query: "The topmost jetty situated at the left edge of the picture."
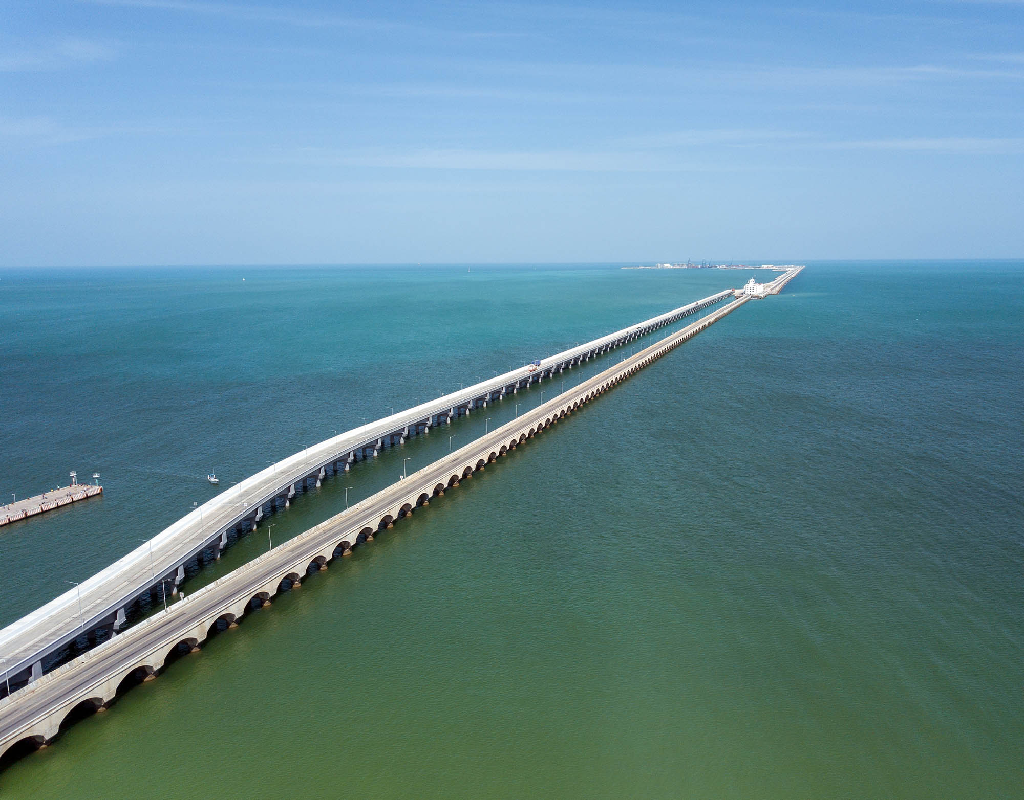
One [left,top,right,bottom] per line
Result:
[0,484,102,527]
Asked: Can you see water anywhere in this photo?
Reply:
Yes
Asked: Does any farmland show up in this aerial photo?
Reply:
No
